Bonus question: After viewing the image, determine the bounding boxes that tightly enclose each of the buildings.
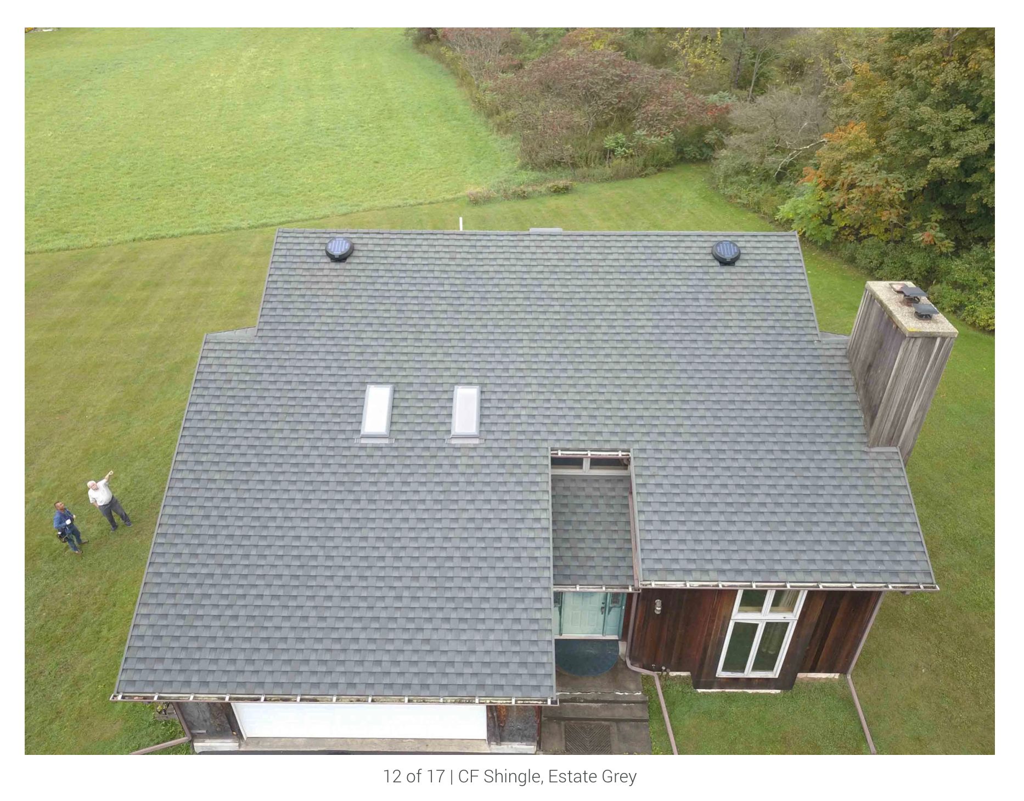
[109,216,960,776]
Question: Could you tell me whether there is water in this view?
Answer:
No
